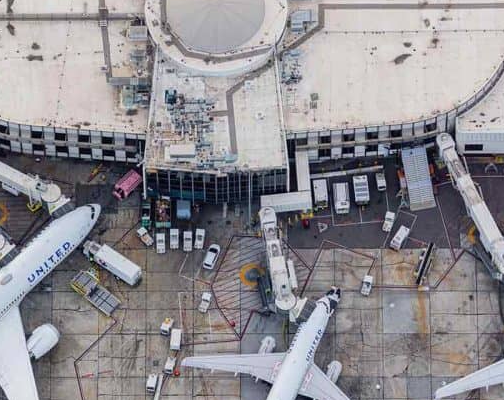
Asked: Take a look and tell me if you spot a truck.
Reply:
Yes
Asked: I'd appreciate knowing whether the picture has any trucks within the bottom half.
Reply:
Yes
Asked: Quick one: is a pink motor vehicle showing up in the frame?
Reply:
Yes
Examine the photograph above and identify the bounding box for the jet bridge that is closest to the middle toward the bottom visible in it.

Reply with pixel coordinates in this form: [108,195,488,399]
[259,207,318,325]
